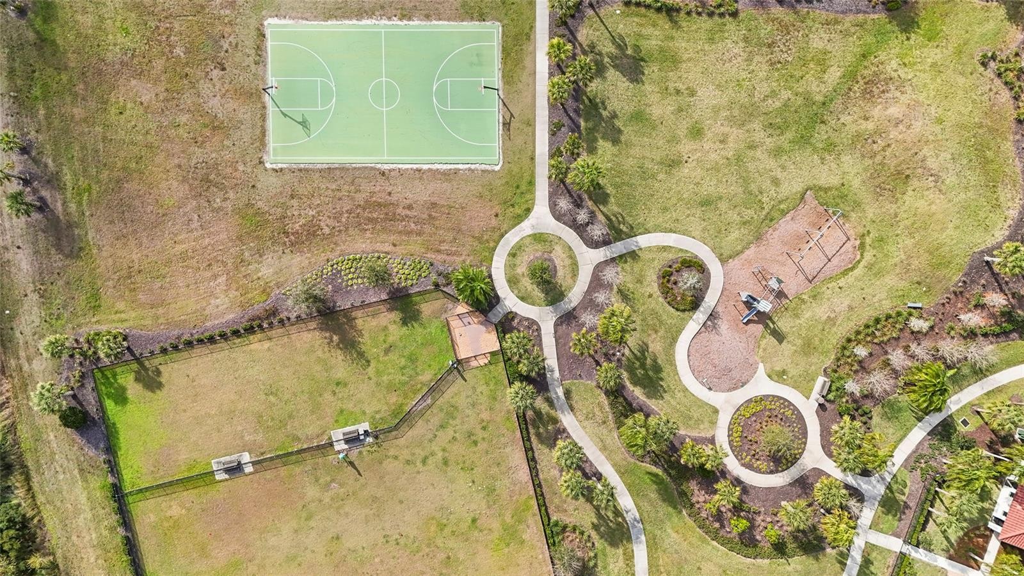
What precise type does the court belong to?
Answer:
basketball court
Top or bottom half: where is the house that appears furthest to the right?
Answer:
bottom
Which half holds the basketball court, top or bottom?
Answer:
top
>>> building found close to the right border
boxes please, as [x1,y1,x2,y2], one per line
[988,467,1024,548]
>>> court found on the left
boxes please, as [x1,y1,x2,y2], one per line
[264,20,503,169]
